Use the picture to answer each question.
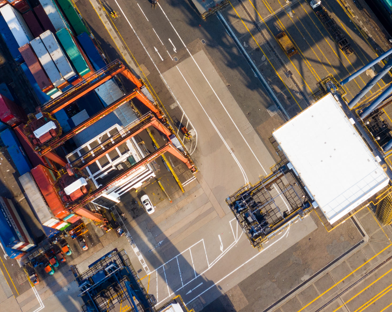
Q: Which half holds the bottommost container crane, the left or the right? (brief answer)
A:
left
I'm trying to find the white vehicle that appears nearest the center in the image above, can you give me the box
[140,195,156,215]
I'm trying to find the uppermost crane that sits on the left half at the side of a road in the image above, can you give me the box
[19,59,168,171]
